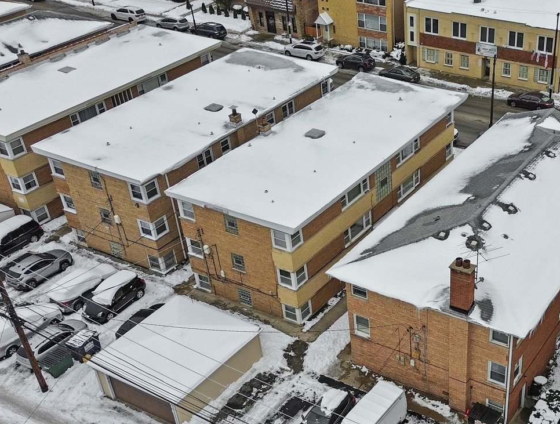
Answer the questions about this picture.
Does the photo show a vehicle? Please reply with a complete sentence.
Yes, the picture does show a vehicle.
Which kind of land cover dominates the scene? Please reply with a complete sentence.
Most of the picture is covered by buildings.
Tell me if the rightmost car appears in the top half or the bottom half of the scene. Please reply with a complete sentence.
The rightmost car sits in the top half of the picture.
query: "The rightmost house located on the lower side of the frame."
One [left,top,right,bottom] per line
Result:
[325,111,560,423]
